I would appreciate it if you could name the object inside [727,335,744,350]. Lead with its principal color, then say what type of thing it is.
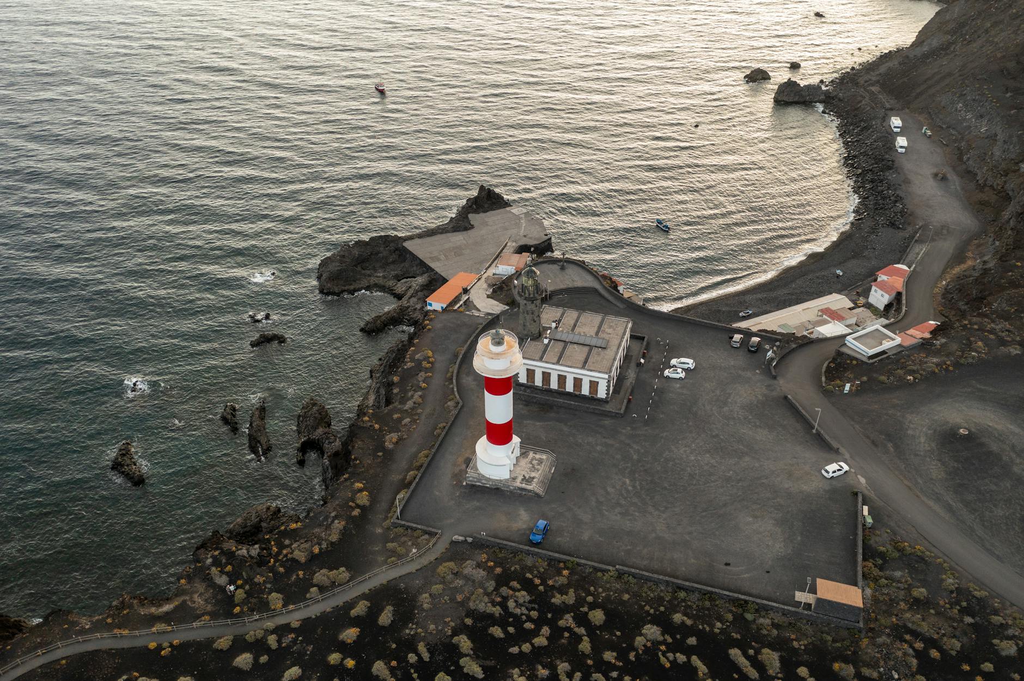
gray car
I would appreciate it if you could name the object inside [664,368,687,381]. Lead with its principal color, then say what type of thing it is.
white vehicle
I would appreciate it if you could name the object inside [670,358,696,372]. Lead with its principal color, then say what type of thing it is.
white car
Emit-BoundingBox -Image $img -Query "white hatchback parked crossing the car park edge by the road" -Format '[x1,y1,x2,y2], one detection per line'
[821,462,851,480]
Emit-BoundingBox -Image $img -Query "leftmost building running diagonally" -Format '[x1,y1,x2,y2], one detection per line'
[426,272,479,313]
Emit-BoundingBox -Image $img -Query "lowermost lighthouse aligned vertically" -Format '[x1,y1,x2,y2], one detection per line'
[472,315,521,482]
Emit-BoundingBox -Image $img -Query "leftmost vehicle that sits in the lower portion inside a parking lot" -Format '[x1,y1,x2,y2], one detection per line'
[529,517,549,544]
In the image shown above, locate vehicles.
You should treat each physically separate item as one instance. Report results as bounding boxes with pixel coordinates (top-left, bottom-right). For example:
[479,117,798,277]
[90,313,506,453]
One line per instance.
[821,462,851,480]
[670,358,696,372]
[892,115,903,131]
[664,368,687,381]
[748,338,761,354]
[529,517,549,544]
[898,135,909,152]
[727,335,744,350]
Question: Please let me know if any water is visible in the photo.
Yes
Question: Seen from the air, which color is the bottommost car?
blue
